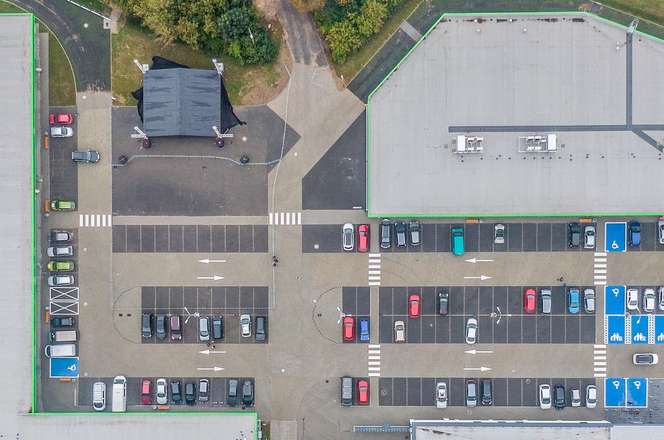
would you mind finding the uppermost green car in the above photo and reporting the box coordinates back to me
[52,199,76,212]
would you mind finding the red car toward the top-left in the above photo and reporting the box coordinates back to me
[50,113,74,125]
